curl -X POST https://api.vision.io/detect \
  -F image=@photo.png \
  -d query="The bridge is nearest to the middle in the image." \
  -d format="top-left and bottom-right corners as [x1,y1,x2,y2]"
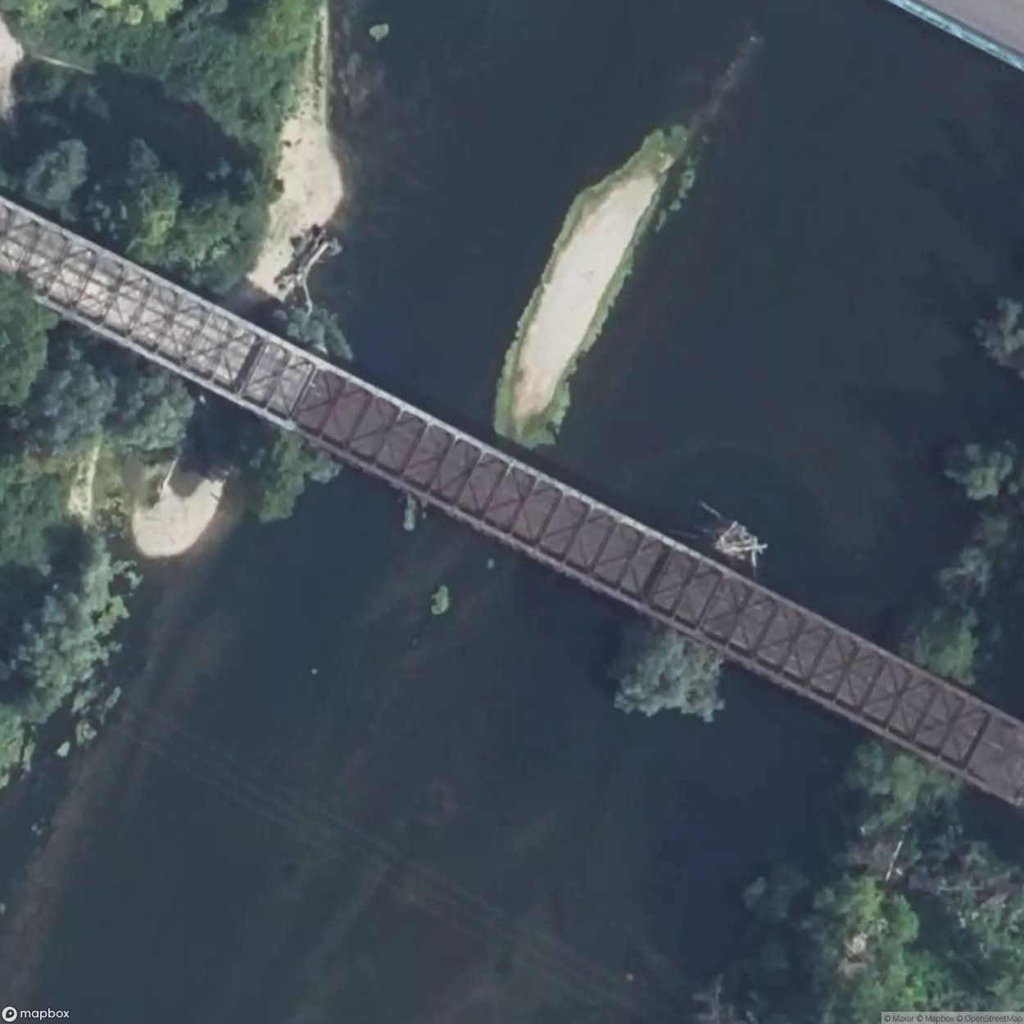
[0,198,1024,807]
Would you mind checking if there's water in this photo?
Yes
